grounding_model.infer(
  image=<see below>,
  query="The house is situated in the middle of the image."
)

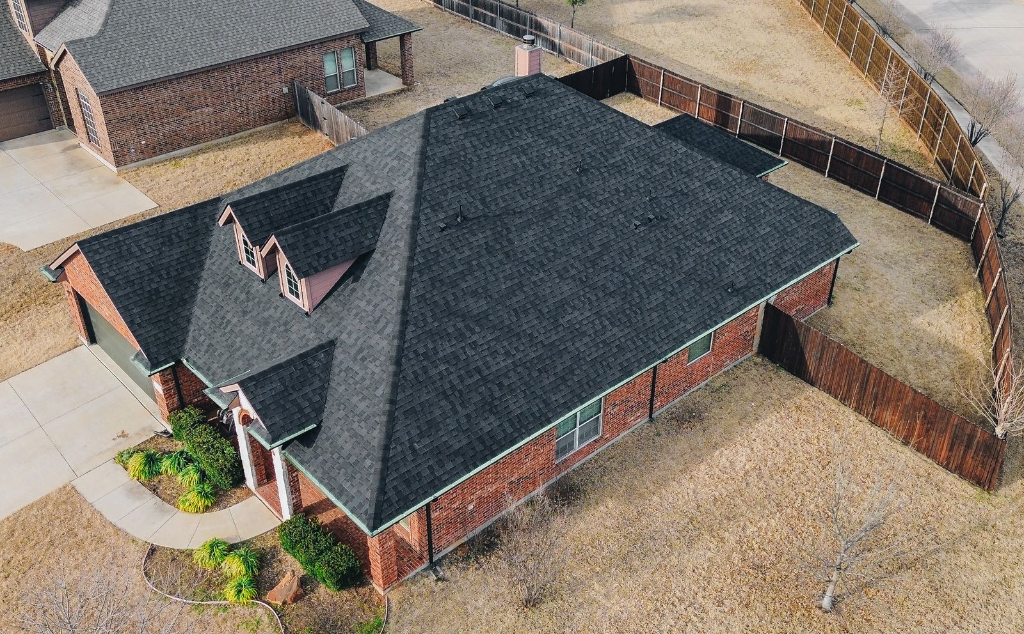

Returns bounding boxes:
[52,38,860,595]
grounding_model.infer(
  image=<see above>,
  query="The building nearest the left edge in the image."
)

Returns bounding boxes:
[0,0,422,171]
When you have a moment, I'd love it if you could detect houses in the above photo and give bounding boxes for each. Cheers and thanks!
[0,0,422,171]
[52,38,860,595]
